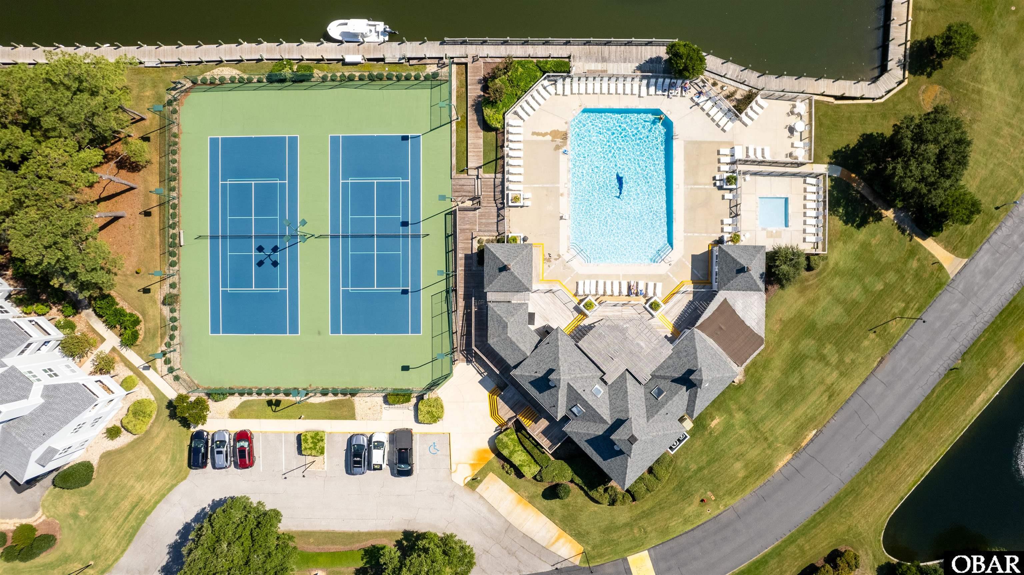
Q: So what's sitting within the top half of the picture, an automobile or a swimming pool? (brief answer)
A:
swimming pool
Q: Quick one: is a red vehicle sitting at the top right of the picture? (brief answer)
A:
No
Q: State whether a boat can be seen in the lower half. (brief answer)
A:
No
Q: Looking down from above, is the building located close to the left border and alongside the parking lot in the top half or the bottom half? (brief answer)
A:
bottom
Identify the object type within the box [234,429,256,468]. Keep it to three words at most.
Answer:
car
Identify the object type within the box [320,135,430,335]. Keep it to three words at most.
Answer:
tennis court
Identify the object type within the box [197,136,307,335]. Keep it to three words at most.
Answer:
tennis court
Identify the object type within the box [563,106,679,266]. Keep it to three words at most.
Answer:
swimming pool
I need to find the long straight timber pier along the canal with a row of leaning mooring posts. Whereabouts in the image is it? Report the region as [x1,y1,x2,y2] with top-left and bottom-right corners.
[0,37,681,74]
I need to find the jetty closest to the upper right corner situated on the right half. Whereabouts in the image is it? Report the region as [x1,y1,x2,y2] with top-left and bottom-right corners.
[679,0,912,102]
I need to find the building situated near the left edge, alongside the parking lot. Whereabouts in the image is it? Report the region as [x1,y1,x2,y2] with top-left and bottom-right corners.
[0,315,140,484]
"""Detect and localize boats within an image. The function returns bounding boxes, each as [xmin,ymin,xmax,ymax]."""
[326,15,399,42]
